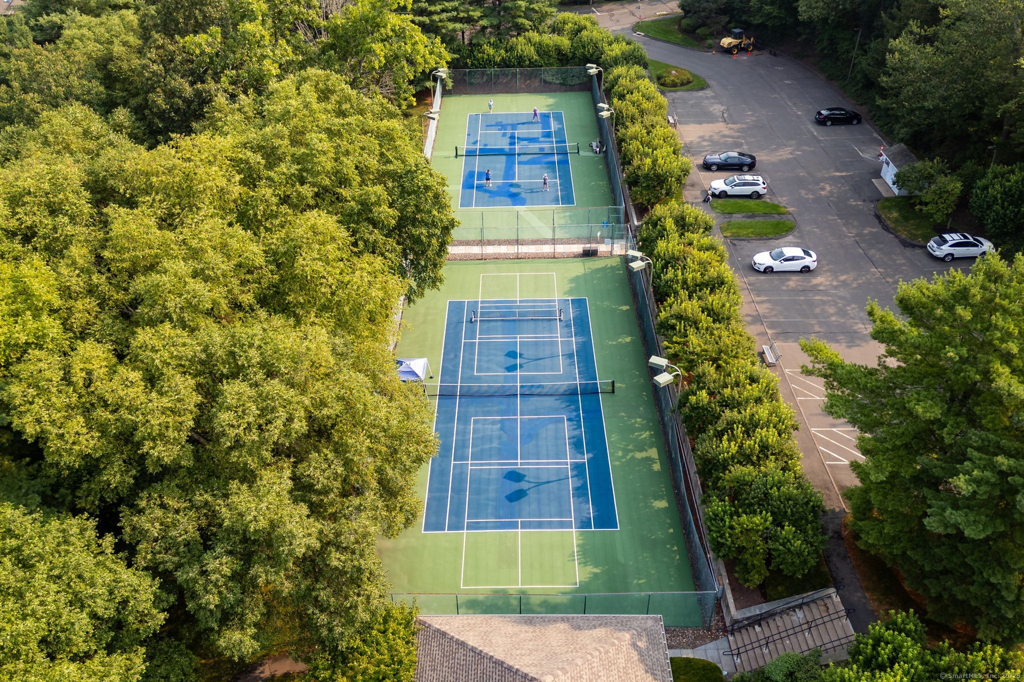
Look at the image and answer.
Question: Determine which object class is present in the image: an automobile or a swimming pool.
automobile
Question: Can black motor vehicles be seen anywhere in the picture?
Yes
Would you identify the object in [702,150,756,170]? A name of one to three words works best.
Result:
car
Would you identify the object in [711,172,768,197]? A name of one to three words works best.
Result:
car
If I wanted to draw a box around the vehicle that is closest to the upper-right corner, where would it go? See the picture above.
[814,106,863,124]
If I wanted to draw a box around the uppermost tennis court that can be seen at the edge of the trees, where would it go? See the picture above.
[433,92,622,240]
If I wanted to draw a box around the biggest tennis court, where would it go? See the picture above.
[362,258,701,628]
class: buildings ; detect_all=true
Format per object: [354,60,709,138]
[880,142,924,195]
[410,612,676,682]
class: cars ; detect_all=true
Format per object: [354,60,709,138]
[752,245,817,271]
[926,229,993,259]
[702,150,756,170]
[814,106,863,124]
[711,172,768,197]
